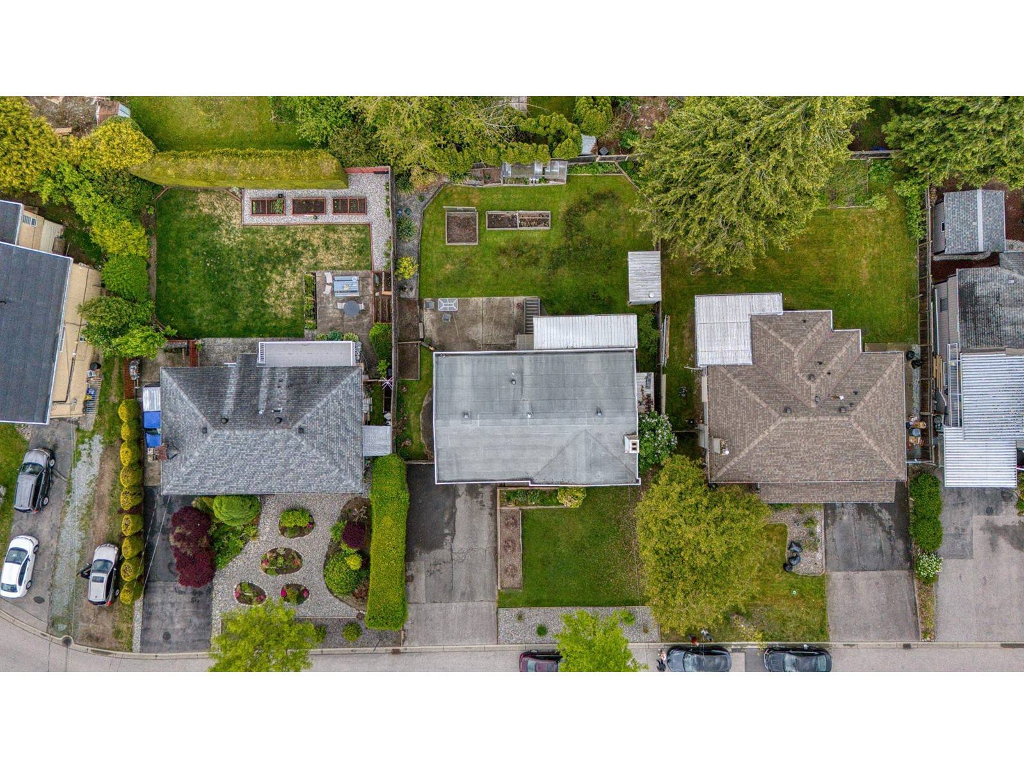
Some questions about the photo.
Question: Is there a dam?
No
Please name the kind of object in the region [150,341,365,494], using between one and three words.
house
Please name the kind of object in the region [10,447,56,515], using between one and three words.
car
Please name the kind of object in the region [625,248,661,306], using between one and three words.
shed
